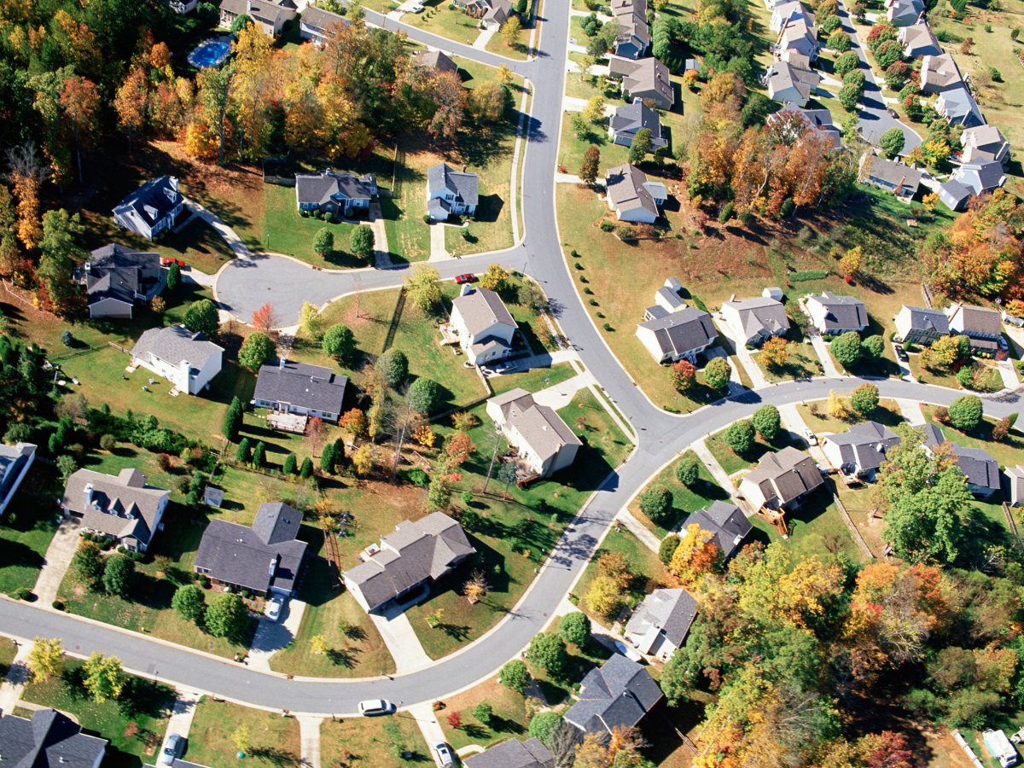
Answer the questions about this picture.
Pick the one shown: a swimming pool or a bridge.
swimming pool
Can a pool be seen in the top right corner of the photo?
No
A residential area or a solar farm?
residential area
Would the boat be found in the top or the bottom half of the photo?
bottom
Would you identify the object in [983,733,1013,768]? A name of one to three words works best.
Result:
camper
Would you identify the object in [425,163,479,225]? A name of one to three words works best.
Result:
house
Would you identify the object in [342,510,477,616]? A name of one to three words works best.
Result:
house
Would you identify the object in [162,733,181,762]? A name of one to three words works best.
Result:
car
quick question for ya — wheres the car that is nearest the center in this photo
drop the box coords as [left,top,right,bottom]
[492,360,514,373]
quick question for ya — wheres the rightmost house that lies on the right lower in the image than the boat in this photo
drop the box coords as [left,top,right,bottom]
[569,652,664,744]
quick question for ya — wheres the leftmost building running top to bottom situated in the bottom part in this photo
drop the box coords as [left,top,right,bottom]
[0,438,37,521]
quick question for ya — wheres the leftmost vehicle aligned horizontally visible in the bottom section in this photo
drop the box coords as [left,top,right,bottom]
[359,698,392,713]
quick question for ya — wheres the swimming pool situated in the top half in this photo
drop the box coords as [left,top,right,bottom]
[187,35,234,67]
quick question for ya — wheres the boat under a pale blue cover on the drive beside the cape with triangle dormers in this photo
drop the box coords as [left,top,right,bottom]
[617,638,644,661]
